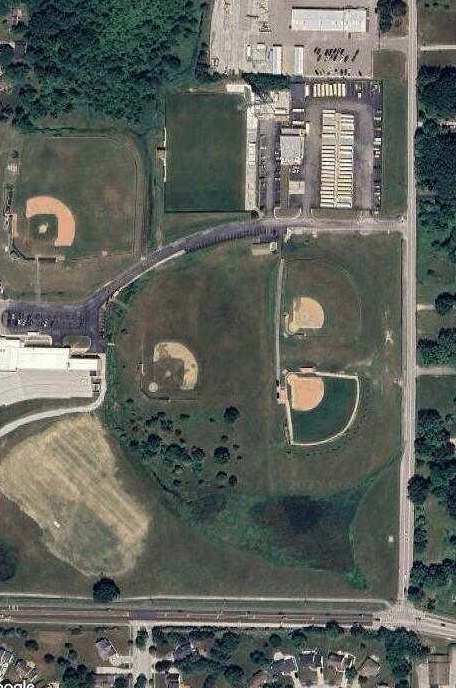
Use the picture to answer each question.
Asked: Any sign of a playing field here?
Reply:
Yes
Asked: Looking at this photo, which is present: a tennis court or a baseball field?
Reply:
baseball field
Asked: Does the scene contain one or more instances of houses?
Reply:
Yes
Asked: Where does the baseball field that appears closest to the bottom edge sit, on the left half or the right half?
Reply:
right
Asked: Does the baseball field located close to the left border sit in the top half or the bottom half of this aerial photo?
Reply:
top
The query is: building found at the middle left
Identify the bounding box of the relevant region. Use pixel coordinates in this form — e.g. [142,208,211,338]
[0,332,97,408]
